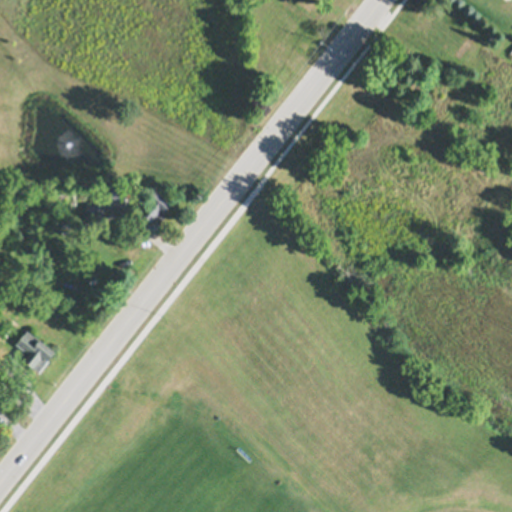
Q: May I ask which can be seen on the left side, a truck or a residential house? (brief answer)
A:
residential house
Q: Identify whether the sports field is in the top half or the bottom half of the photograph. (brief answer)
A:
bottom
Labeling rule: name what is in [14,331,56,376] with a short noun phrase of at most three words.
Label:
house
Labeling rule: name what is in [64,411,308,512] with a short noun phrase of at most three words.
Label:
sports field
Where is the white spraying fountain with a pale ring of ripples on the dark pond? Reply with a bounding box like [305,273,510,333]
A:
[58,135,80,157]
